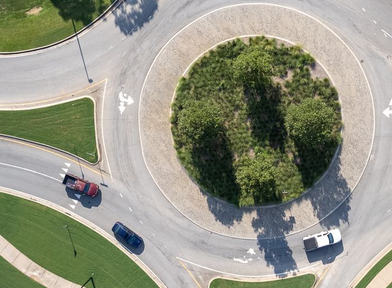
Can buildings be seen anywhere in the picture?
No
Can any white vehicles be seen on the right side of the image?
Yes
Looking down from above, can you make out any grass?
Yes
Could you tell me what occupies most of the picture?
paved ground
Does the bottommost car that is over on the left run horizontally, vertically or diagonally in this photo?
diagonally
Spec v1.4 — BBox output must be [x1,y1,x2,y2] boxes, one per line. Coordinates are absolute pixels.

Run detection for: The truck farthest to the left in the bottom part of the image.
[60,172,100,197]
